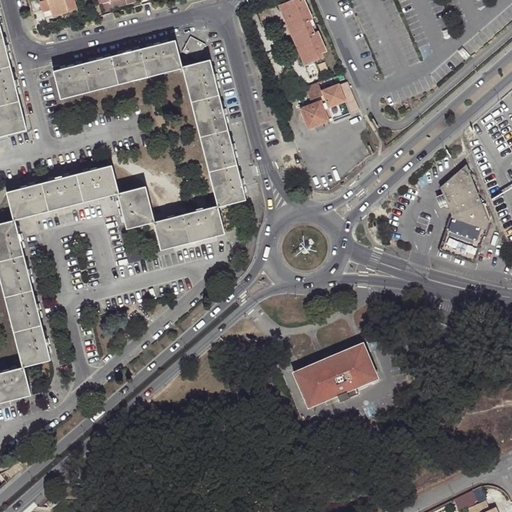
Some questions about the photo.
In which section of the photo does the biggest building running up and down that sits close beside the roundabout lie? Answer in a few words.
top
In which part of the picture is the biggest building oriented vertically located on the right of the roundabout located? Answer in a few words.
right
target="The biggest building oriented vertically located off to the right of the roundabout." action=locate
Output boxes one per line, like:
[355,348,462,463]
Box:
[441,160,490,256]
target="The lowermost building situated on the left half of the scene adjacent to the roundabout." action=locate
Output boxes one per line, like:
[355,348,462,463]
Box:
[155,207,227,250]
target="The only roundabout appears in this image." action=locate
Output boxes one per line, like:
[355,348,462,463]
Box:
[258,204,355,292]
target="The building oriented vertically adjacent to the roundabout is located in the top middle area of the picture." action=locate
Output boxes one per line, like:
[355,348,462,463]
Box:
[182,60,248,207]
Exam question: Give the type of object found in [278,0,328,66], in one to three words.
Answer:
house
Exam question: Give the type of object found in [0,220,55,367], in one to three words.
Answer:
building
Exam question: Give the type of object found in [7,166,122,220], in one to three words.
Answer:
building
